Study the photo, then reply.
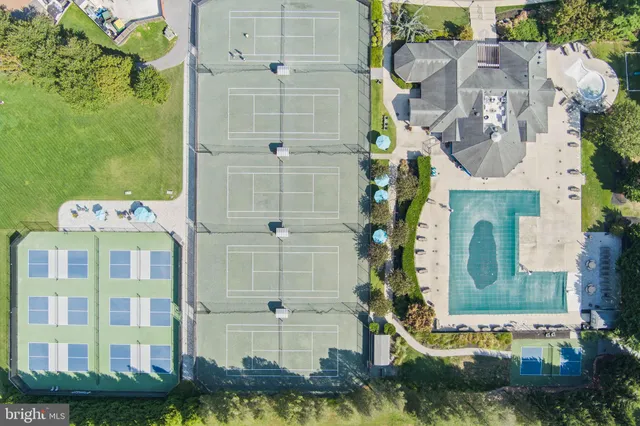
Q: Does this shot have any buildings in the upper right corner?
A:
Yes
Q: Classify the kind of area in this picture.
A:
sports ground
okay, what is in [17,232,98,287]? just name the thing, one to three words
sports court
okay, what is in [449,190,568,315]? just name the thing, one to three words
swimming pool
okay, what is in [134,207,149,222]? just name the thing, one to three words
umbrella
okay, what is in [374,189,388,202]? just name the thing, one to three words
umbrella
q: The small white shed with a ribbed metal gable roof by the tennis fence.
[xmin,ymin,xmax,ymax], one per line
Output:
[375,334,391,366]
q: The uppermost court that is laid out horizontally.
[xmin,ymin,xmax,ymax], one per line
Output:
[198,0,371,73]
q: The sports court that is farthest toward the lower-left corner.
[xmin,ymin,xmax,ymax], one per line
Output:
[17,334,98,391]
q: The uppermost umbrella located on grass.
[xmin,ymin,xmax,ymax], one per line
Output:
[376,136,390,150]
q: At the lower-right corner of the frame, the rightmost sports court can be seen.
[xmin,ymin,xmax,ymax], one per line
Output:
[510,340,598,387]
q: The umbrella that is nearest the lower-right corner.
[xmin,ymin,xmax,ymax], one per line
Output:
[372,229,386,243]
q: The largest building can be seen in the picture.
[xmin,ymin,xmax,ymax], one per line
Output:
[394,41,555,179]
